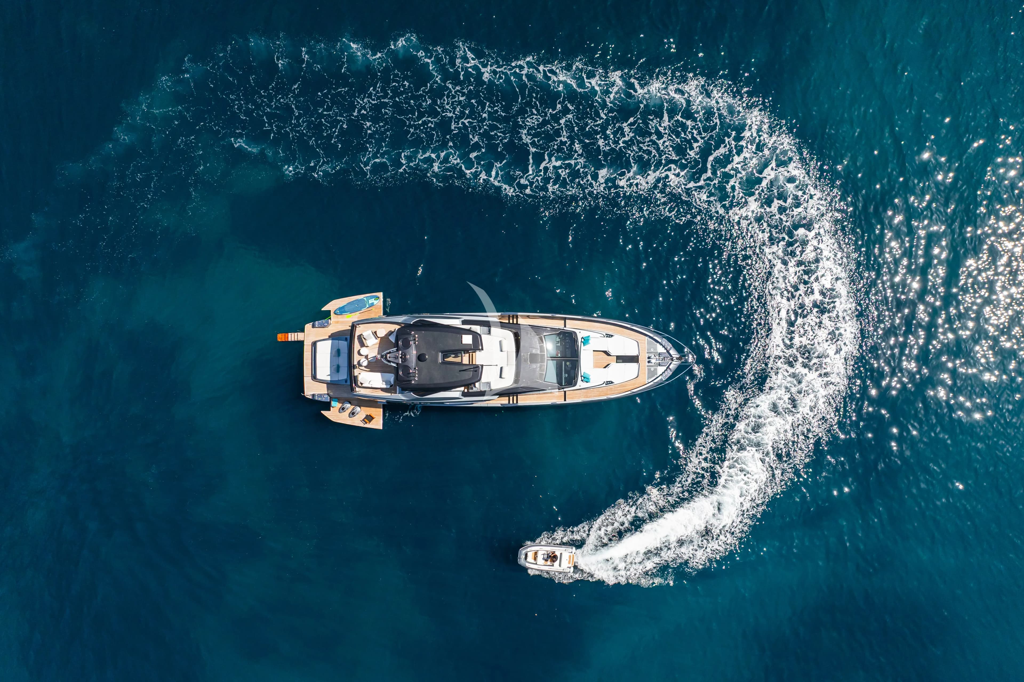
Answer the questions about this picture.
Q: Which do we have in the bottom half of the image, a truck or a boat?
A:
boat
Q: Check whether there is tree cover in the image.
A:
No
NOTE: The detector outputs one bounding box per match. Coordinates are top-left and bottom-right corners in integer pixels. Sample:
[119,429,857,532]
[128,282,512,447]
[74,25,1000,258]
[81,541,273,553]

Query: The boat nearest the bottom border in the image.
[518,545,576,574]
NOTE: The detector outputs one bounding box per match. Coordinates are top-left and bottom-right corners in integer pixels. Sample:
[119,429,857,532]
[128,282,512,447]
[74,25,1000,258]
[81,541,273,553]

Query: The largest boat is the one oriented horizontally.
[277,292,696,429]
